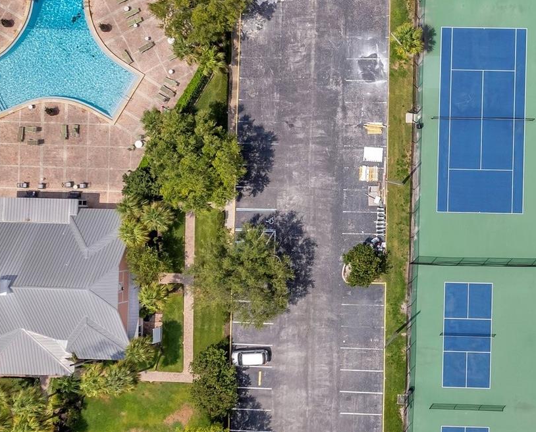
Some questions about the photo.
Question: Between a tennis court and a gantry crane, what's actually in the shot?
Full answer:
It is a tennis court that can be seen here.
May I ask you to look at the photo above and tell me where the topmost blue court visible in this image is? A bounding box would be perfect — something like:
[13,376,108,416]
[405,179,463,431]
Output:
[431,26,533,213]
